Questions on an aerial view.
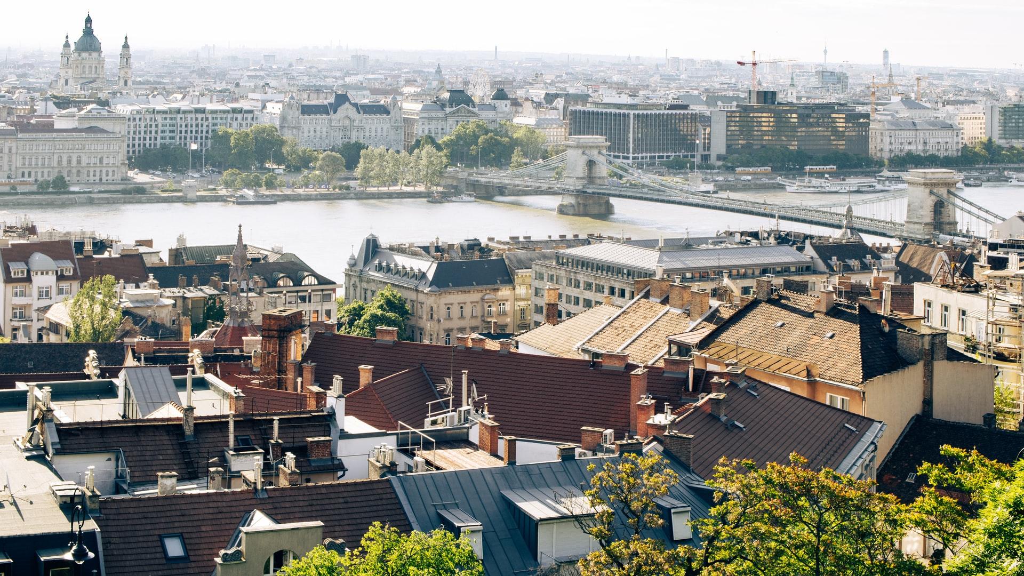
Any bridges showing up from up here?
Yes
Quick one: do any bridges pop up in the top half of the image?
Yes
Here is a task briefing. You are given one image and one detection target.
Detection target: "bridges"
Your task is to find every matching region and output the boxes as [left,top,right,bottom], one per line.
[433,135,1011,252]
